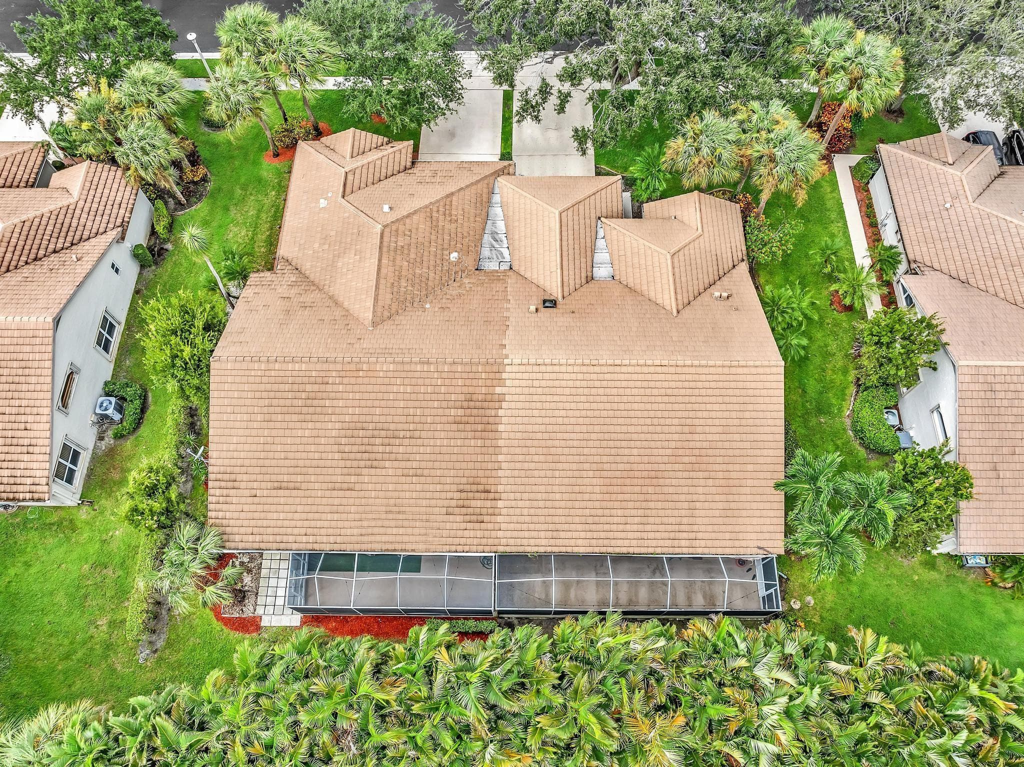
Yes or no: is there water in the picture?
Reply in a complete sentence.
No, no water is visible.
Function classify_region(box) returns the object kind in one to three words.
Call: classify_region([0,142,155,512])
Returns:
house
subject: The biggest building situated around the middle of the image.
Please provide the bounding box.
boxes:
[206,125,790,581]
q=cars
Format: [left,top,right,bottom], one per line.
[1006,136,1024,161]
[961,131,1008,161]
